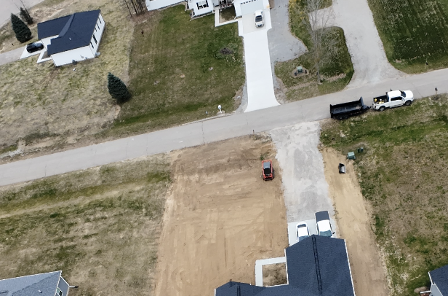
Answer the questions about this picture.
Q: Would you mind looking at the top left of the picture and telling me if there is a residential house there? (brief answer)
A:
Yes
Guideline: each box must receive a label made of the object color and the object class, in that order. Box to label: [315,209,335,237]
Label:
white vehicle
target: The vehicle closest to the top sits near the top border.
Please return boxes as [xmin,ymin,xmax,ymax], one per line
[251,7,265,26]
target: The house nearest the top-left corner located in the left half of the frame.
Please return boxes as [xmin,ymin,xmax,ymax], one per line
[37,11,104,68]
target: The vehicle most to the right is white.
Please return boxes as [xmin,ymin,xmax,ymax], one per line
[370,89,415,112]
